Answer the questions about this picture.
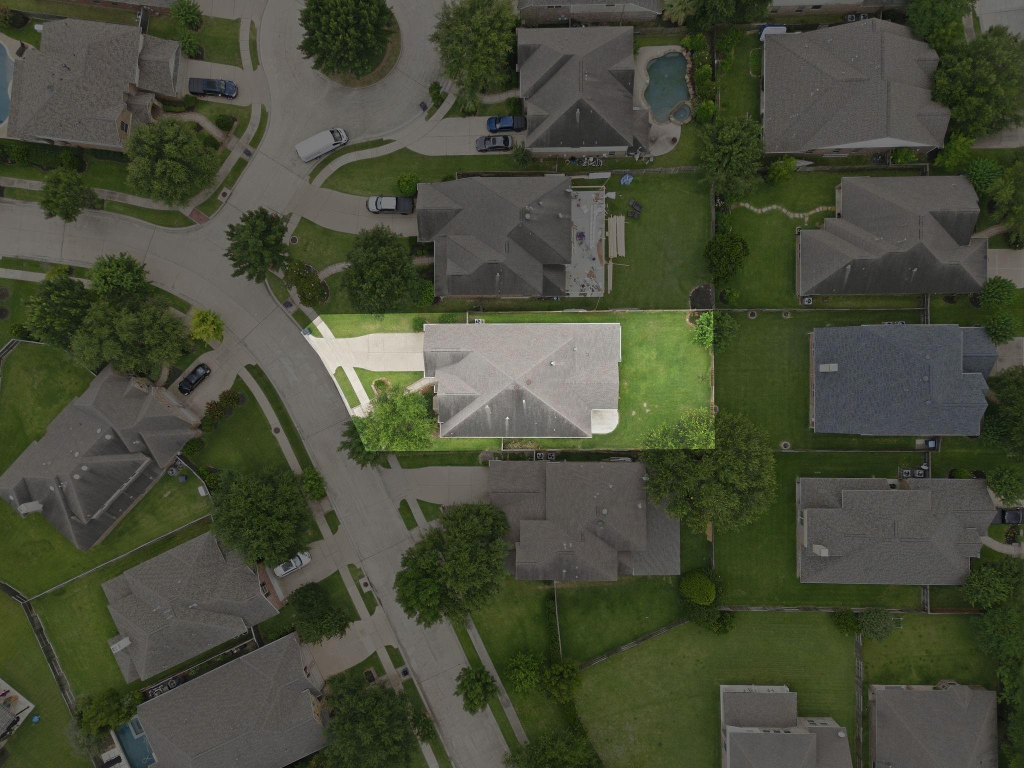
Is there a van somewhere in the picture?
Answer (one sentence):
Yes, the photo shows a van.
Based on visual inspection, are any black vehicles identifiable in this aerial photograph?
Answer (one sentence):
Yes, looking at the shot, I can spot a black vehicle.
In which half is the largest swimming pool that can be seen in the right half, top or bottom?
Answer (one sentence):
The largest swimming pool that can be seen in the right half sits in the top half of the picture.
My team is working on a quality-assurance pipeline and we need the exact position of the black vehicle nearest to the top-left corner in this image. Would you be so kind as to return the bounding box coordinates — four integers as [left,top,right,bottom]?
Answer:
[187,78,238,100]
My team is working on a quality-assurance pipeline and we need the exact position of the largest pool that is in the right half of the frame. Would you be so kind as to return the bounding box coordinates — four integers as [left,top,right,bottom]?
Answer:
[641,49,692,125]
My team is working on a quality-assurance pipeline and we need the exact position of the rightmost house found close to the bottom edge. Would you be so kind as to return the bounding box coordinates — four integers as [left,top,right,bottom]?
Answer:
[868,680,997,768]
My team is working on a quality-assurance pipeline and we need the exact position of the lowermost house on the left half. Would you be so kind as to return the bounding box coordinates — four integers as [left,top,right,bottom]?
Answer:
[137,630,333,768]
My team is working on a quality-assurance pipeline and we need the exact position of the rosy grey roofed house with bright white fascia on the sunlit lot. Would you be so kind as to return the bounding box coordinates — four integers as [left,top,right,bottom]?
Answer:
[421,322,621,438]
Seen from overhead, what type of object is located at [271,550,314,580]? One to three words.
car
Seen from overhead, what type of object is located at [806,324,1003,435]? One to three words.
house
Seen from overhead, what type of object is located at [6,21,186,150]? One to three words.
house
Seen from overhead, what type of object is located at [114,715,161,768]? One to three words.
swimming pool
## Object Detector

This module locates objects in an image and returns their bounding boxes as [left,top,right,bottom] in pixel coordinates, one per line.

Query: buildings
[0,367,201,552]
[415,174,572,297]
[101,535,283,684]
[795,175,992,295]
[516,22,651,159]
[717,685,851,768]
[488,460,681,582]
[793,477,1002,585]
[137,630,333,768]
[421,322,621,438]
[806,324,1003,435]
[868,680,997,768]
[758,17,957,157]
[6,21,186,150]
